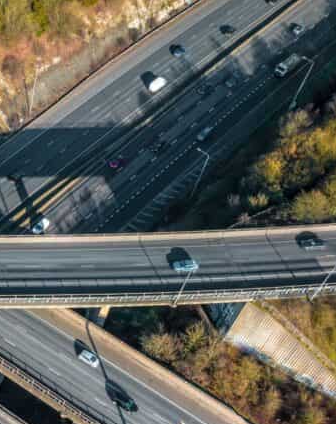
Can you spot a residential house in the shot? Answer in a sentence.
No, I can see no residential house in this picture.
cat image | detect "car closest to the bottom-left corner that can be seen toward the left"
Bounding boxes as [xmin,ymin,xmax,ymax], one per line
[76,347,101,367]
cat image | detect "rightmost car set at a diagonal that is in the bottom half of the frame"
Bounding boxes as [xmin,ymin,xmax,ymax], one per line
[112,390,140,412]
